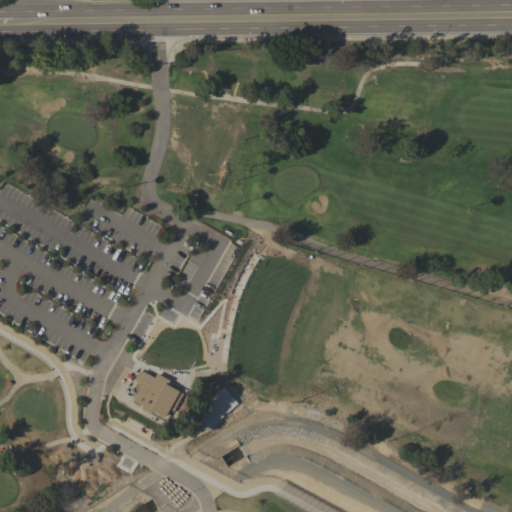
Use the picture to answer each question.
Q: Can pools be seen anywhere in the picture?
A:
No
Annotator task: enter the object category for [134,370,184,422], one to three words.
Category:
building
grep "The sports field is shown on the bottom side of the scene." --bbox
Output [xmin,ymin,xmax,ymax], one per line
[229,256,310,385]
